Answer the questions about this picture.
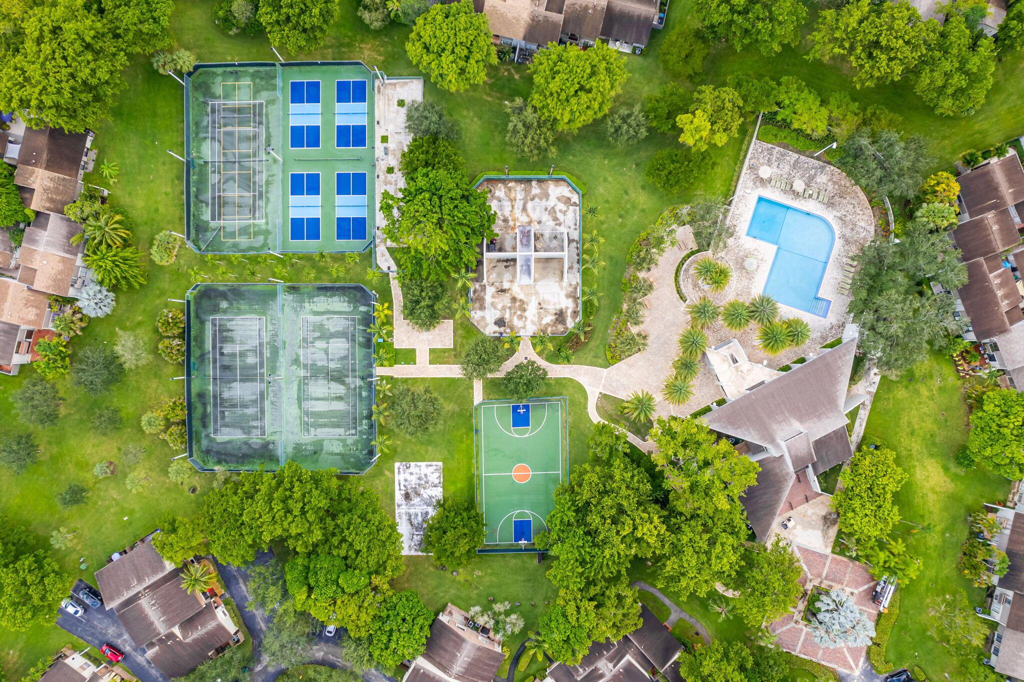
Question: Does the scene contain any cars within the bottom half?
Yes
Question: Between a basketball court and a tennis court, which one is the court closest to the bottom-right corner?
basketball court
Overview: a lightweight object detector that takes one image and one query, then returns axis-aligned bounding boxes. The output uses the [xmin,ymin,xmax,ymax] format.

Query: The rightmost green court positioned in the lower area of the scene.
[479,400,566,548]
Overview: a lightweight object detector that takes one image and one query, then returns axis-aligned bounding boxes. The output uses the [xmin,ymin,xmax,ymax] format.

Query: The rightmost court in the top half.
[471,179,580,335]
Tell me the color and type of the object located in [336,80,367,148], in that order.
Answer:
blue sports court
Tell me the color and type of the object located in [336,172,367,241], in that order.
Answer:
blue sports court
